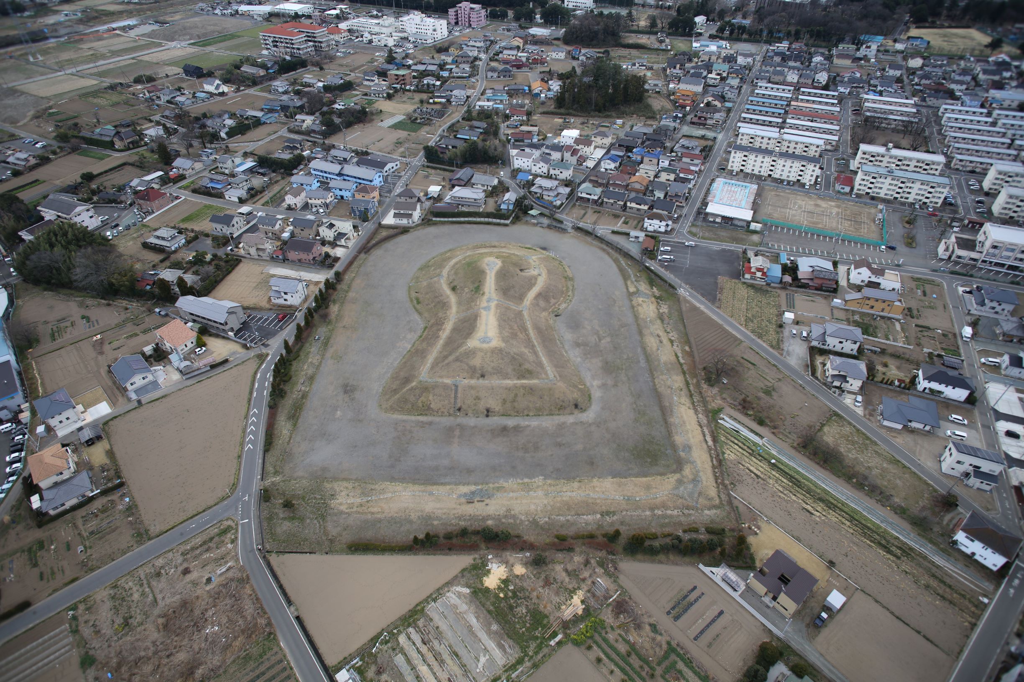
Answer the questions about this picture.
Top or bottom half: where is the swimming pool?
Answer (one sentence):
It is in the top half that the swimming pool appears.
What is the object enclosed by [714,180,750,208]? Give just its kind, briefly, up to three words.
swimming pool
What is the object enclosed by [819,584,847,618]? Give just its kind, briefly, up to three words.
shed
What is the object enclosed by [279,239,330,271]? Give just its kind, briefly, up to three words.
house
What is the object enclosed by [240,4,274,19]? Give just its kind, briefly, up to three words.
building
